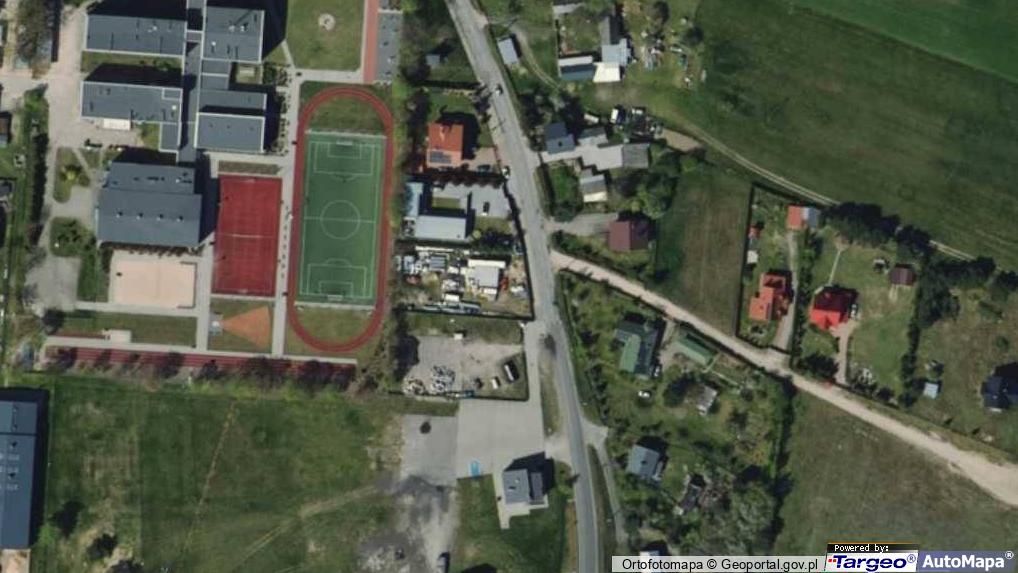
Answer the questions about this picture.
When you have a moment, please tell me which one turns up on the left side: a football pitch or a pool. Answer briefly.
football pitch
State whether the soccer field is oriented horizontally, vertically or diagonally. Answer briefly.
vertically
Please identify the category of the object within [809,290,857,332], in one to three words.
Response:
house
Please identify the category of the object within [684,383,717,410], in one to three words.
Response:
shed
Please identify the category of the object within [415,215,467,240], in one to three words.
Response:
building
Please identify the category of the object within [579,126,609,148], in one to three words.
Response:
barn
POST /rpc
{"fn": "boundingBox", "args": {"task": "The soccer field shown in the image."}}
[294,125,388,310]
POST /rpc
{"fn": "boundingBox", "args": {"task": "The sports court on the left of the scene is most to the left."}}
[108,249,203,310]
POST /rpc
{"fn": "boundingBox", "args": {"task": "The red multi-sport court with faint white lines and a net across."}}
[212,177,281,296]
